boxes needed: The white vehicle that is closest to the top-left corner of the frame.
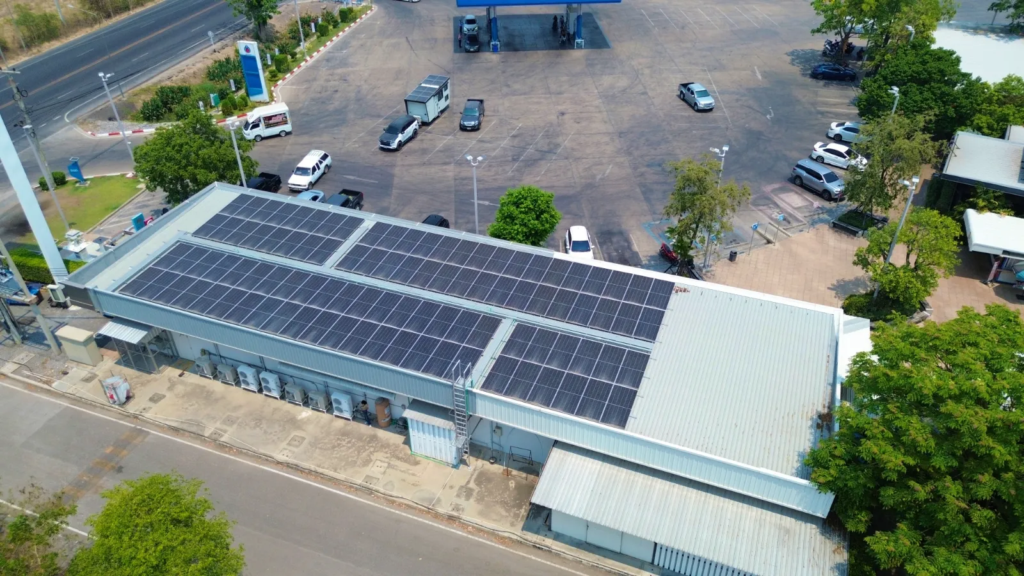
[246,107,291,141]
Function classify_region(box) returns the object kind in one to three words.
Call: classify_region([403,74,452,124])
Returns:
trailer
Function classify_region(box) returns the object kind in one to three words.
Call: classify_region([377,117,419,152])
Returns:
car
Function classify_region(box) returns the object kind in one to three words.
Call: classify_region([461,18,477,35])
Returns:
car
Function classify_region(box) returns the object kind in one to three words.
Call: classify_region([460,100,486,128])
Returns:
truck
